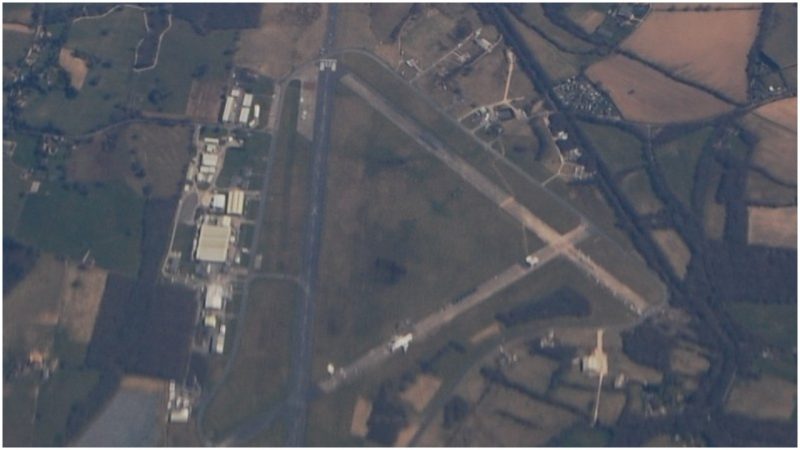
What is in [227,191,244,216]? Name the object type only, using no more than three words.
hangar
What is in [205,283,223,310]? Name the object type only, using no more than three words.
hangar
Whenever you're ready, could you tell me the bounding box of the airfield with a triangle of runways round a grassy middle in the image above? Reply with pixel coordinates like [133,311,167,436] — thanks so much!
[195,0,659,450]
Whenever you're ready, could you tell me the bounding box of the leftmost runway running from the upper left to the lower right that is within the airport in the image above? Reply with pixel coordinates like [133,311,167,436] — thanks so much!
[340,74,512,205]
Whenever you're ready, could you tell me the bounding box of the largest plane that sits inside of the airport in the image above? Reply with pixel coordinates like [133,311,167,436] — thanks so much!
[391,334,411,350]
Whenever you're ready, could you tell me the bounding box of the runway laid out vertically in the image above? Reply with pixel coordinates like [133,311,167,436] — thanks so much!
[286,49,337,450]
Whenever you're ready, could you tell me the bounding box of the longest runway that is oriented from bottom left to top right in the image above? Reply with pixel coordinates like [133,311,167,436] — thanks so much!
[317,223,593,391]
